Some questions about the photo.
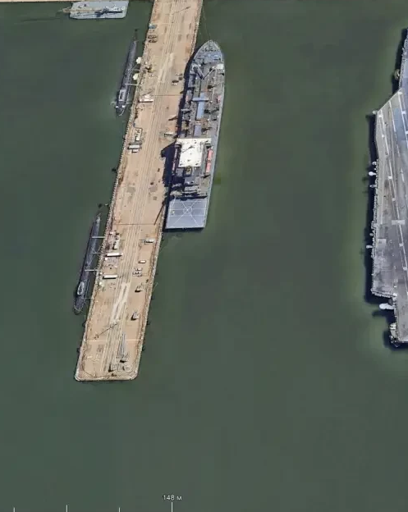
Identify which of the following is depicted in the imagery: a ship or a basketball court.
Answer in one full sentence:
It is a ship that can be seen here.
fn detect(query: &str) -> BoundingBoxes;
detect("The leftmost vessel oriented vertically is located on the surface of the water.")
[74,206,101,312]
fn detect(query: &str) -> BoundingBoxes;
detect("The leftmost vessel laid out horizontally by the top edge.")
[63,0,128,21]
